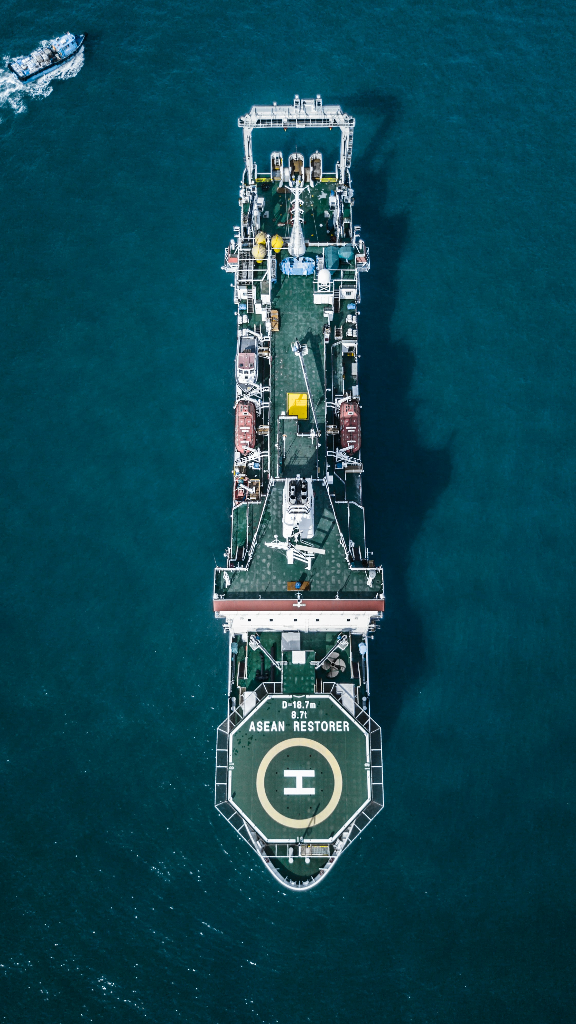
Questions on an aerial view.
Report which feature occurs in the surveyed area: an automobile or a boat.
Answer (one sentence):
It is a boat that can be seen here.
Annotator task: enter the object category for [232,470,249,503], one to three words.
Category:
boat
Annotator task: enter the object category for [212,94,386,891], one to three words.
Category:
ship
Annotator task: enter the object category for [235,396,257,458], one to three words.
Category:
boat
